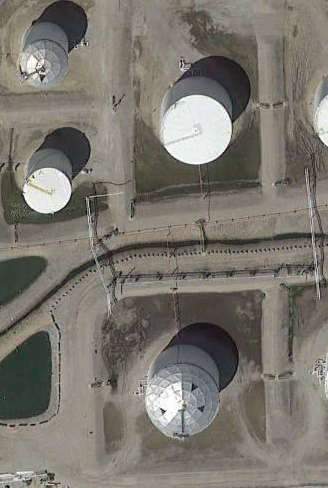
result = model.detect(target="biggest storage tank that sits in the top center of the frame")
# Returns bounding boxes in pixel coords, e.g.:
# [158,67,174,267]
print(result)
[160,76,234,165]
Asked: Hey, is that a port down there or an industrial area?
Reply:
industrial area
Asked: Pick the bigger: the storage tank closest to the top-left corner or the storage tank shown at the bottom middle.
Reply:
the storage tank shown at the bottom middle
